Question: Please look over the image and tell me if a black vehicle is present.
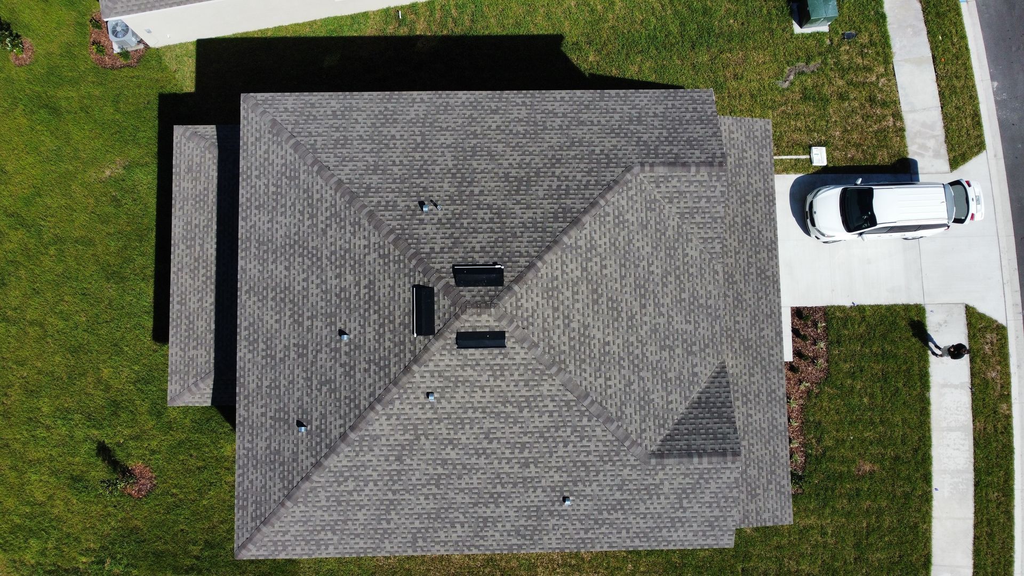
No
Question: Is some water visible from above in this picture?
No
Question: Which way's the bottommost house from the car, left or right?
to the left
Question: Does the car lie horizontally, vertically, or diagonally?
horizontally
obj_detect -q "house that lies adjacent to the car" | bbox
[167,90,792,560]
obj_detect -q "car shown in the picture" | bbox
[804,178,984,243]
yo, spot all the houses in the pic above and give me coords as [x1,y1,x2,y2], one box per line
[101,0,415,47]
[167,90,792,560]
